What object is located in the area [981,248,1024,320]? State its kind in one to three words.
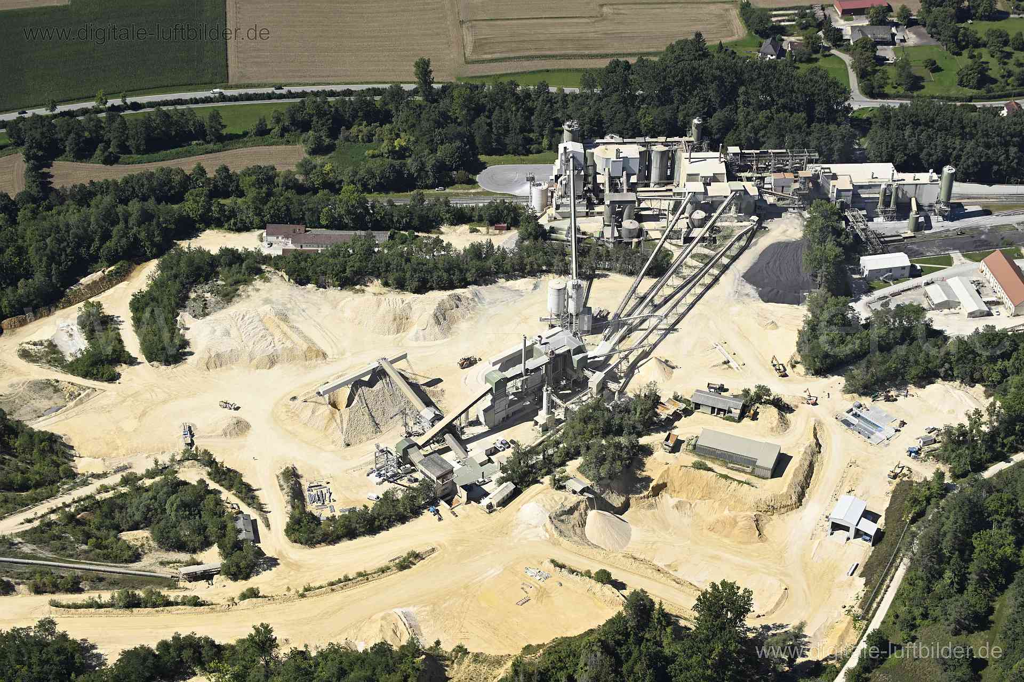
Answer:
building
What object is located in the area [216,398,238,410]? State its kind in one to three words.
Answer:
vehicle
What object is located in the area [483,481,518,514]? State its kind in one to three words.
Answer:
shed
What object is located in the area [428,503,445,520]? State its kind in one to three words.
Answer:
vehicle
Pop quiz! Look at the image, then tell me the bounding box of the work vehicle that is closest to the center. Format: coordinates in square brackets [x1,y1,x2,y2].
[457,354,481,368]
